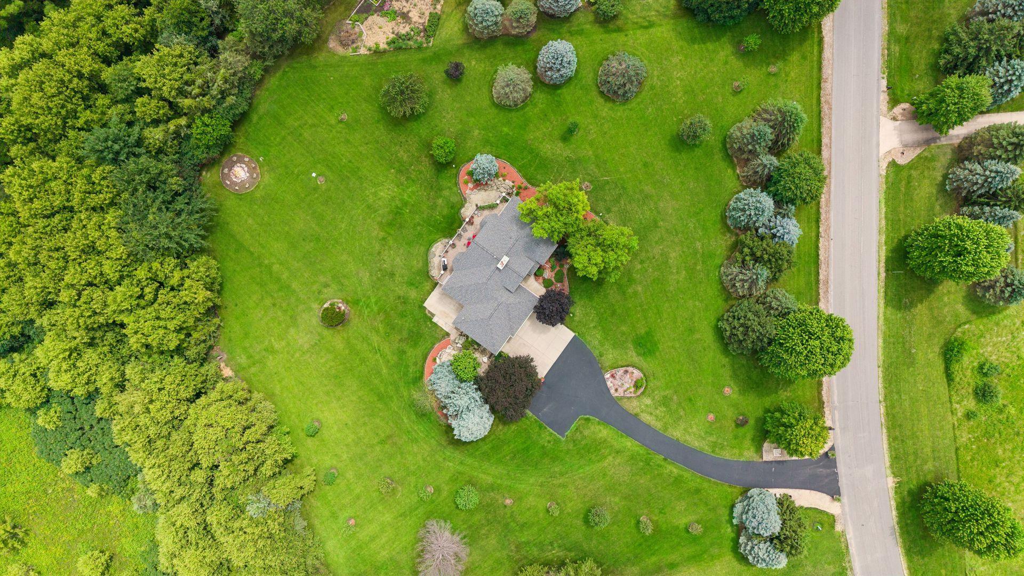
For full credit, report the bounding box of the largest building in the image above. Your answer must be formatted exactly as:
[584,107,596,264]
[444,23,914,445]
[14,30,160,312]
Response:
[439,195,558,356]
